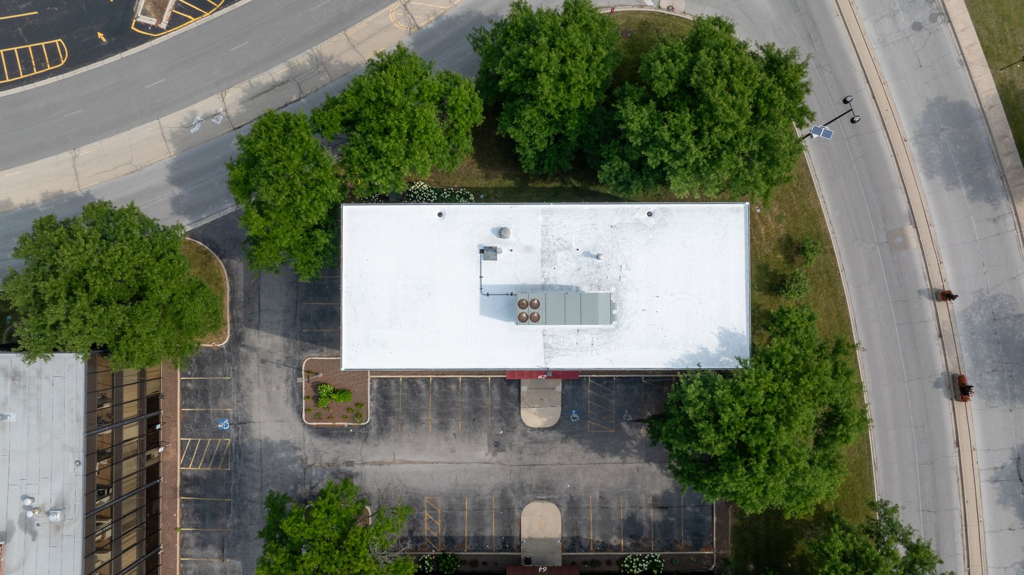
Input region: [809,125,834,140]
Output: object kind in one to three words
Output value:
solar panel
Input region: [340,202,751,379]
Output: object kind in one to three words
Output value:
building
